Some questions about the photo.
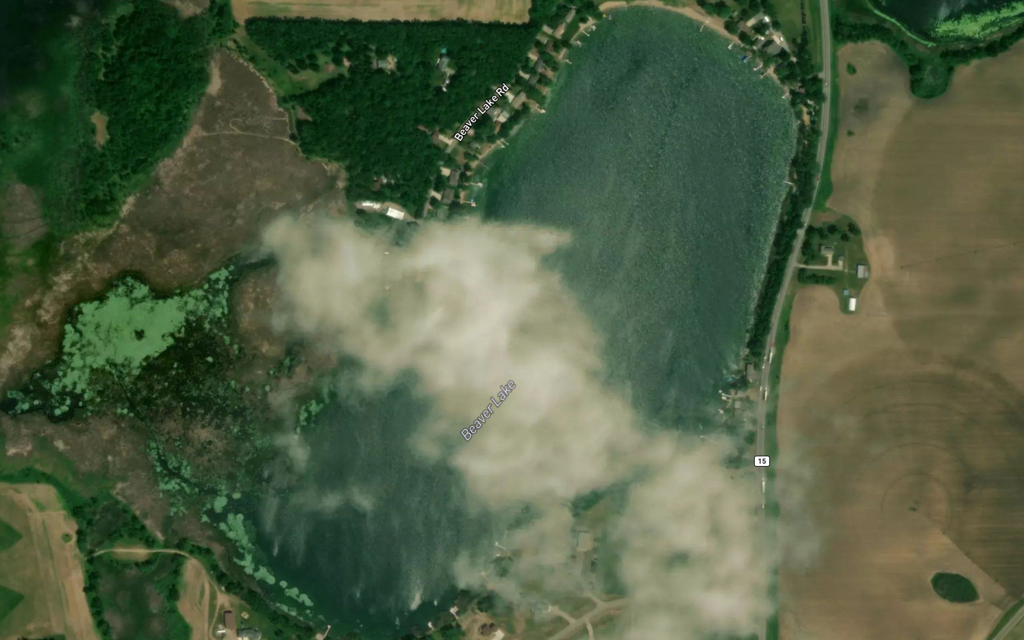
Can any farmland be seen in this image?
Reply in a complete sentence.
Yes, the picture does contain farmland.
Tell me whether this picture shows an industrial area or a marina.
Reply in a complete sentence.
It's a marina.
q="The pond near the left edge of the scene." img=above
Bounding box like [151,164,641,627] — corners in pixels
[0,255,275,421]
